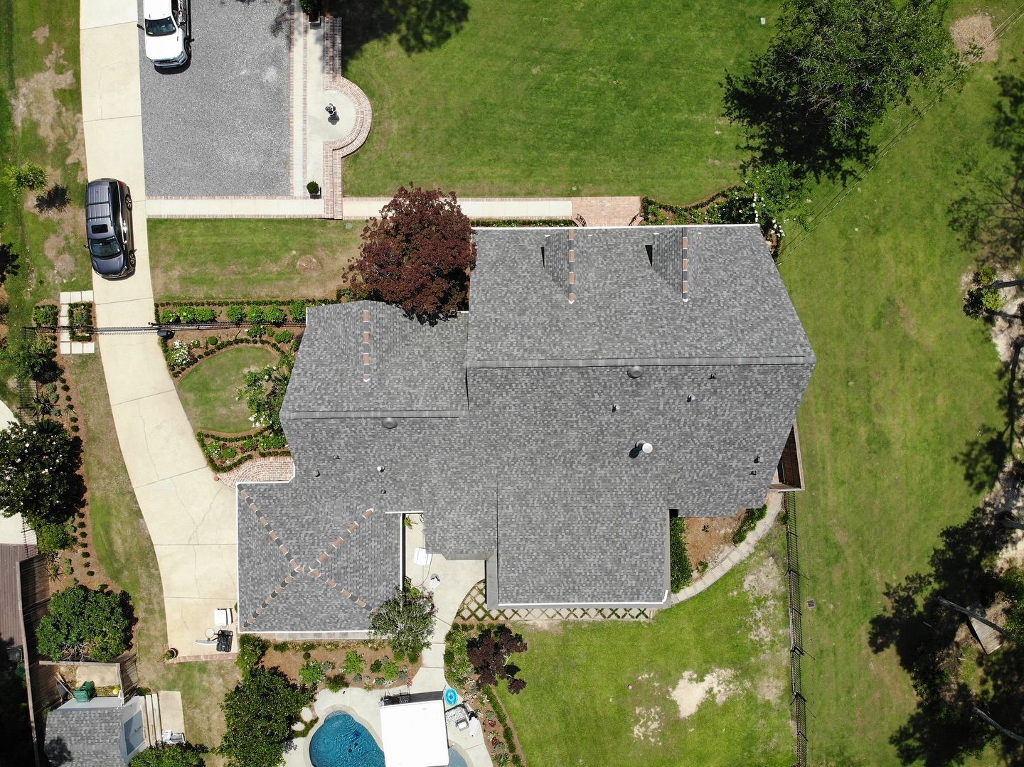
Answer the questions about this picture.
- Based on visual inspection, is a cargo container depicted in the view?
No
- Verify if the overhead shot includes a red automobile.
No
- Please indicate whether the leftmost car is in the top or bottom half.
top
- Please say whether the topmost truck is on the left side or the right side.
left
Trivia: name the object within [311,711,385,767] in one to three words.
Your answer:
swimming pool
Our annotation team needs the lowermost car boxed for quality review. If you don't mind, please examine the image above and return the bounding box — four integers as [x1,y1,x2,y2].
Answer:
[86,177,139,280]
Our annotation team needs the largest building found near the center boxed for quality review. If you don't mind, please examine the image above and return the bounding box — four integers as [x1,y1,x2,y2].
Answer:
[236,225,813,635]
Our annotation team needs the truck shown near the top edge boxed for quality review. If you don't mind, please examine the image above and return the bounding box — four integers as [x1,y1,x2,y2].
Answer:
[136,0,193,72]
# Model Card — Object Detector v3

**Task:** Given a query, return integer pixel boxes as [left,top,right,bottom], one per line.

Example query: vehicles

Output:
[86,177,139,280]
[136,0,193,72]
